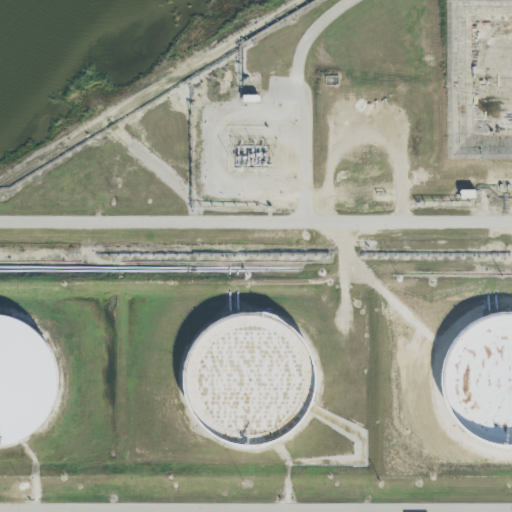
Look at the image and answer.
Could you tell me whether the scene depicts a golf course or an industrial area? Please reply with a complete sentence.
The area seen from above is an industrial area.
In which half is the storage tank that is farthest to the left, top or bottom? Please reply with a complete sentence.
It is in the bottom half that the storage tank that is farthest to the left appears.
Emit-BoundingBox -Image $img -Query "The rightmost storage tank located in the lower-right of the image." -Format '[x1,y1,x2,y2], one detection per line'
[441,312,512,450]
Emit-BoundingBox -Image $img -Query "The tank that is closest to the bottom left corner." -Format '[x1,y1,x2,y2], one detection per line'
[0,314,61,452]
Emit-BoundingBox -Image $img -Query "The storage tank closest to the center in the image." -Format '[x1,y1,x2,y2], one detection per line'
[181,312,318,450]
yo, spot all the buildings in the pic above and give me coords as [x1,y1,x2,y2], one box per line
[242,94,262,106]
[460,189,477,201]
